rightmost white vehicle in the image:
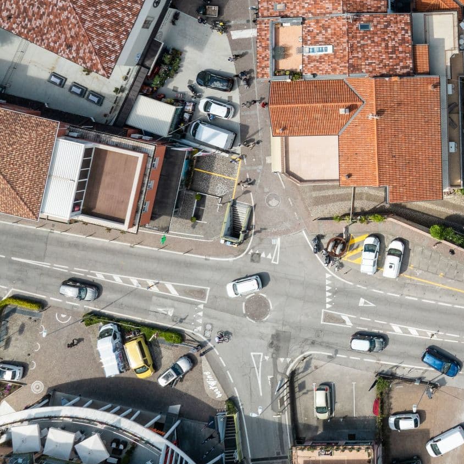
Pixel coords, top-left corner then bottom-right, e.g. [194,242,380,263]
[426,424,464,456]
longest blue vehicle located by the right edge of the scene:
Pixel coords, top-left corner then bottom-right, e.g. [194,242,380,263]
[421,345,462,375]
